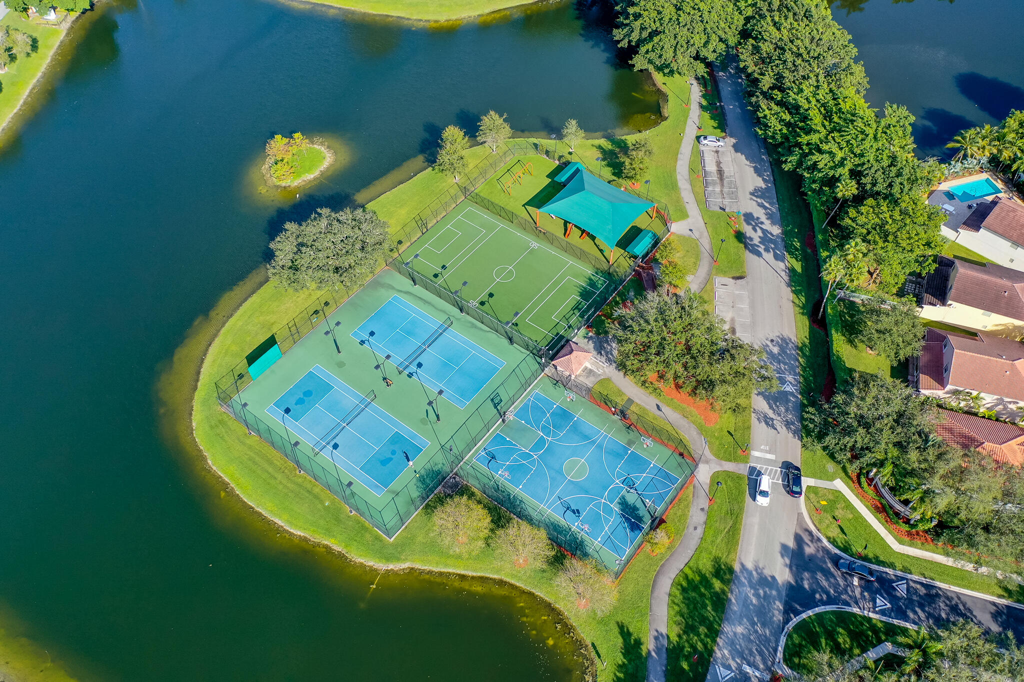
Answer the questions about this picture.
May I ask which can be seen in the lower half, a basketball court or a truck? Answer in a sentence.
Looking in the lower half, you will find a basketball court.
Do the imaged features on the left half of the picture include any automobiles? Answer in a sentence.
No, no automobile appears on the left half of the picture.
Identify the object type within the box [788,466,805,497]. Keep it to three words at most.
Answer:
car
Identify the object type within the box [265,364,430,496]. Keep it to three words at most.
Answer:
tennis court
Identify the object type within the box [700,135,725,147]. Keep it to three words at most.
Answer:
vehicle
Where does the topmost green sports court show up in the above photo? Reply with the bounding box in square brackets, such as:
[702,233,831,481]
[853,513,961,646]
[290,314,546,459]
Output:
[387,198,628,373]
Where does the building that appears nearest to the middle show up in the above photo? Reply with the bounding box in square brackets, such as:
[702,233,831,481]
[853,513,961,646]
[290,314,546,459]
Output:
[551,341,593,386]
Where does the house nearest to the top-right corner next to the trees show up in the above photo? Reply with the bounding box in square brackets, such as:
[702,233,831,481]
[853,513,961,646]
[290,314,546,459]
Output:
[952,198,1024,277]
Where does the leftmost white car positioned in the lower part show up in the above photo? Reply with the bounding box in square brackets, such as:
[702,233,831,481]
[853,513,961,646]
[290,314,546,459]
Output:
[756,473,773,506]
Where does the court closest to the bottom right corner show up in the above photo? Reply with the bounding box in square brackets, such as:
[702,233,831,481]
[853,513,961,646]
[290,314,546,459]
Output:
[454,374,695,578]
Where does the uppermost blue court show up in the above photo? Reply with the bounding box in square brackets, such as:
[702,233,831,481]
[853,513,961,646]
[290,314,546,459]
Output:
[350,294,506,409]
